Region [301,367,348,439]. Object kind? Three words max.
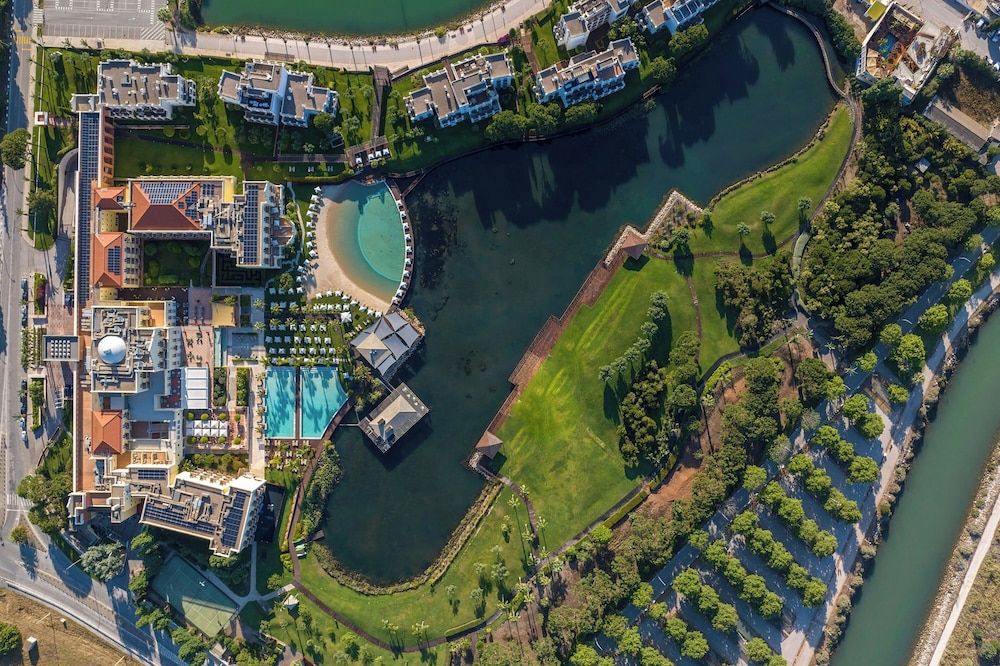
swimming pool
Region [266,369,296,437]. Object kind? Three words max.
swimming pool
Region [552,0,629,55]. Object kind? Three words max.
building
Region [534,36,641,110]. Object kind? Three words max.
building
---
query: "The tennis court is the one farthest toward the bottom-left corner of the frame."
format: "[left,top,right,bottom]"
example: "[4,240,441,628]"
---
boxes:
[145,556,238,643]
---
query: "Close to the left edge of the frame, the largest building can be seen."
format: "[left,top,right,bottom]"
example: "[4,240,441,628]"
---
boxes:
[43,112,298,556]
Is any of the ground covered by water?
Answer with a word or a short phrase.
Yes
